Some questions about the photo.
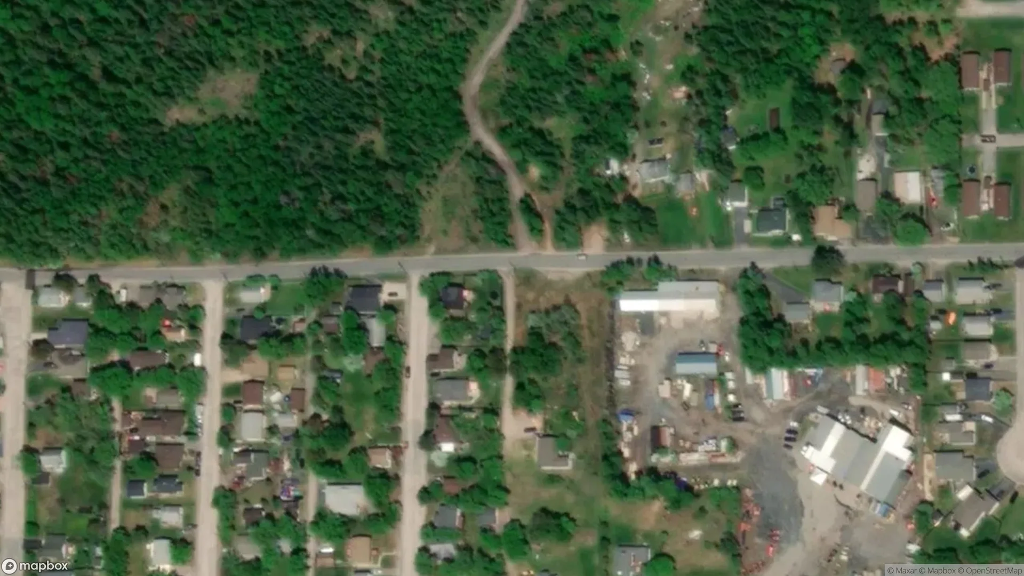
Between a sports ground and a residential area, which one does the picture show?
residential area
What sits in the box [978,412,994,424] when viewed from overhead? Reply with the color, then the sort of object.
white vehicle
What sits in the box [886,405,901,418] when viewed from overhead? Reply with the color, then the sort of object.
white vehicle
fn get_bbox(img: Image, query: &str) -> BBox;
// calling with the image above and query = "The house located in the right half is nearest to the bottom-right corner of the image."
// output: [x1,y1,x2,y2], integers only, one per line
[954,486,1001,531]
